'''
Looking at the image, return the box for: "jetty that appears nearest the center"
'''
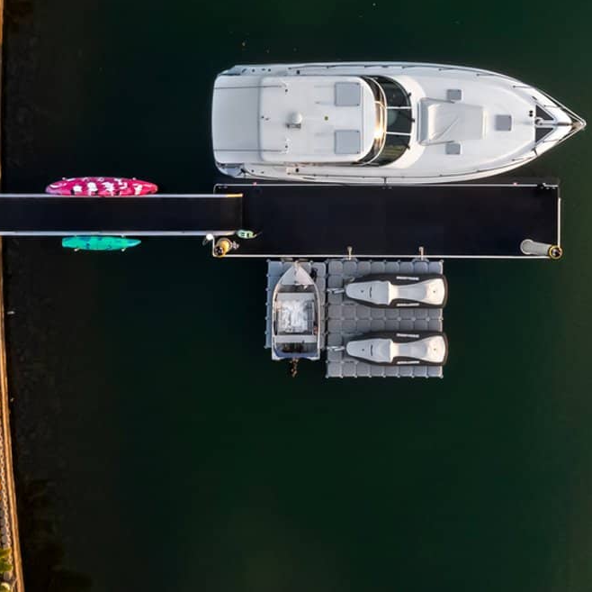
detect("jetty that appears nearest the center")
[266,260,327,350]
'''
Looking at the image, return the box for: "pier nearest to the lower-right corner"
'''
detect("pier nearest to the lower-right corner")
[325,260,444,379]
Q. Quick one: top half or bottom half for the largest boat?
top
